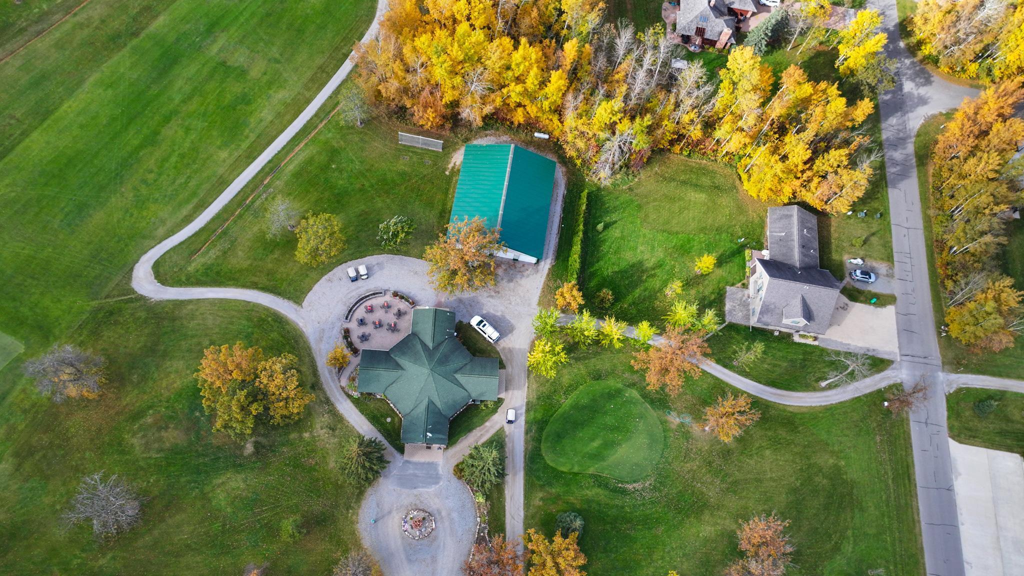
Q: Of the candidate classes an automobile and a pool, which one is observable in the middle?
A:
automobile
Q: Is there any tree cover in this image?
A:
Yes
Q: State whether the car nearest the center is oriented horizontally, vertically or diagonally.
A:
diagonally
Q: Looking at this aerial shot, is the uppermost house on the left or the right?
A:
right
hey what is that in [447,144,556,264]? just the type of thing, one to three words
shed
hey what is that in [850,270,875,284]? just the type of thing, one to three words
car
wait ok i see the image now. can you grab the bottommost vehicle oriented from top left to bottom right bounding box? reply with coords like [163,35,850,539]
[470,316,501,346]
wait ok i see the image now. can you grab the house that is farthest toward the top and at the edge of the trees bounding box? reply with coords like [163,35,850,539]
[679,0,754,56]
